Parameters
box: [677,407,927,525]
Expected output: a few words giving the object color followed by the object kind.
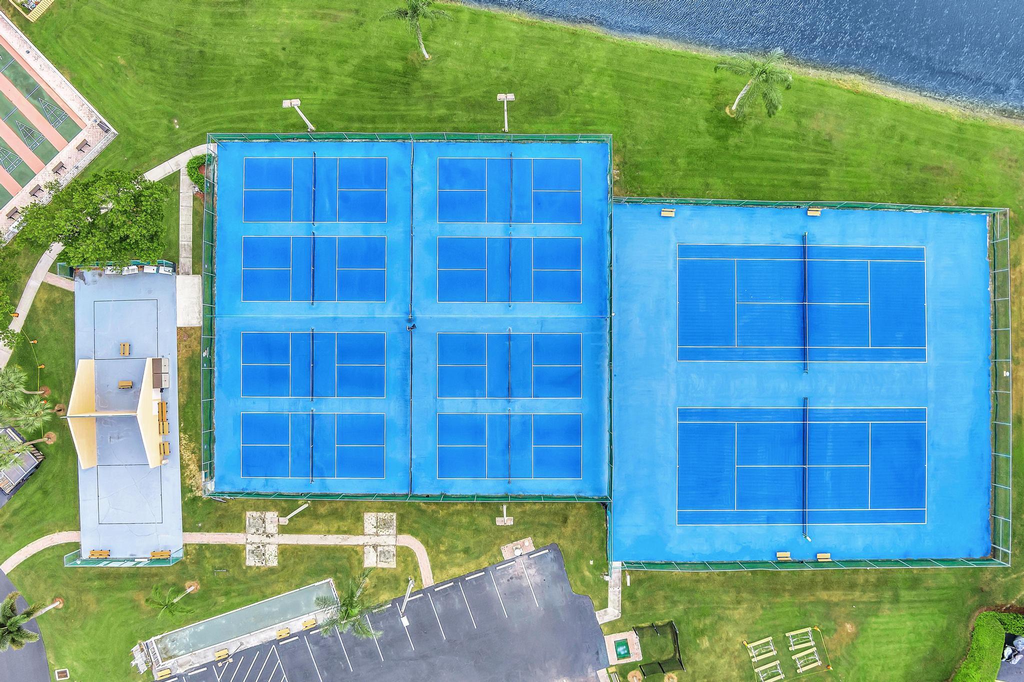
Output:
blue tennis court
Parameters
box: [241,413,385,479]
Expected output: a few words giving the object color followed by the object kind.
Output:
blue sports court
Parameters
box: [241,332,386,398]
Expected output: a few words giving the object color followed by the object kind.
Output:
blue sports court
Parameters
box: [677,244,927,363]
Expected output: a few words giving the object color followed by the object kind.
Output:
blue tennis court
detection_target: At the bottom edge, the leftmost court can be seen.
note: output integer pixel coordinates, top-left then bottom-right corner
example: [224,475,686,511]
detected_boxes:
[151,579,340,666]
